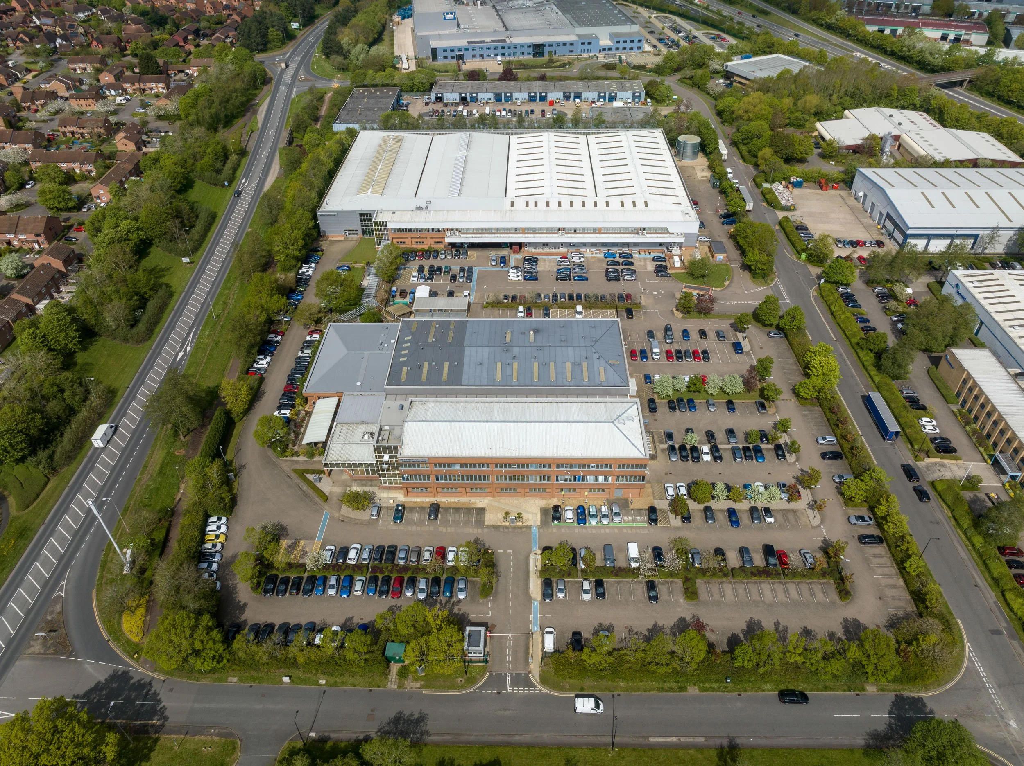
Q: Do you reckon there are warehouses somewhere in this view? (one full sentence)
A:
Yes, there's a warehouse here.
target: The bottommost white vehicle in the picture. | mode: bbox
[572,696,605,713]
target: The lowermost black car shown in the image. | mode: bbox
[778,689,808,705]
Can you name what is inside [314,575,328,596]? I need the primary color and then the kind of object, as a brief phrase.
blue car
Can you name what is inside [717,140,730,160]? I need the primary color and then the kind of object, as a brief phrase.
white vehicle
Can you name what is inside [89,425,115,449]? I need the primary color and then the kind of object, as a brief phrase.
white truck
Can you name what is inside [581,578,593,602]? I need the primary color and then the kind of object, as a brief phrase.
white vehicle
